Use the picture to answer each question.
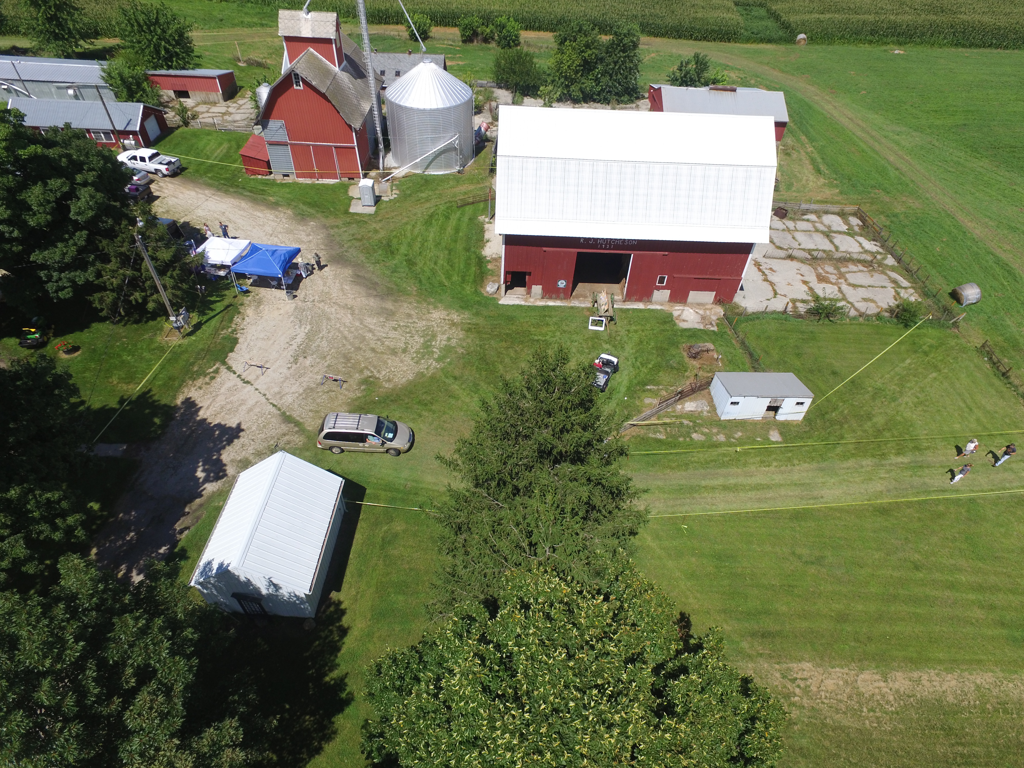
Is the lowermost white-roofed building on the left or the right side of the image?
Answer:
left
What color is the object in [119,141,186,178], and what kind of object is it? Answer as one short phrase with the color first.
white truck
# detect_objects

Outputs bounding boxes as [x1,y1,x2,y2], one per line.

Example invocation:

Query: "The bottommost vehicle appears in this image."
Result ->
[315,409,417,459]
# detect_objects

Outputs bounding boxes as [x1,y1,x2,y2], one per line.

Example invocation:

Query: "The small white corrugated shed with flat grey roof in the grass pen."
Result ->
[711,368,820,421]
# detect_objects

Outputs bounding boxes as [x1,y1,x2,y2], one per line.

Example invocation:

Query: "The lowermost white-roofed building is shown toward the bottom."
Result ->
[181,453,354,616]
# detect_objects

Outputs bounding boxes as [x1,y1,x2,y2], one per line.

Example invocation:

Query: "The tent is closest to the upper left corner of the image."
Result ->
[192,236,253,287]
